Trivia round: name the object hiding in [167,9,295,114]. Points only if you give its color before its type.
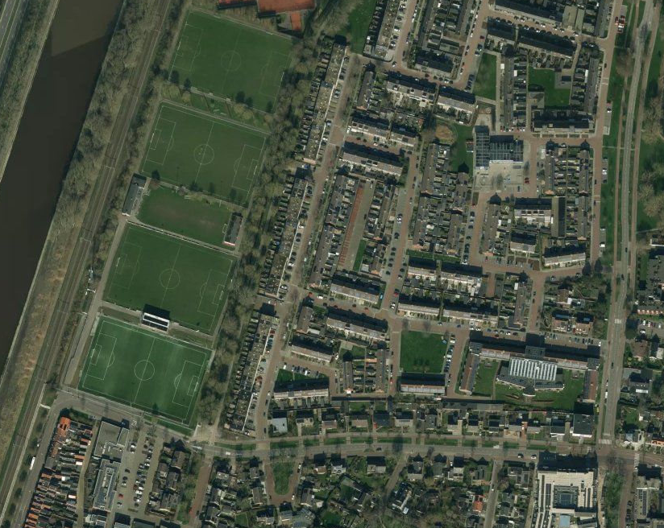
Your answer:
green soccer field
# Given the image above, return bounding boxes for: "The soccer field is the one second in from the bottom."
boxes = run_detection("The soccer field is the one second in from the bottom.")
[103,225,234,332]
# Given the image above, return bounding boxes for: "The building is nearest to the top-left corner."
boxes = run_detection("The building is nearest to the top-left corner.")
[123,175,148,214]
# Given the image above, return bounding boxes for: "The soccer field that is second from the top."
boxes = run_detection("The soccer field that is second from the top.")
[145,104,266,205]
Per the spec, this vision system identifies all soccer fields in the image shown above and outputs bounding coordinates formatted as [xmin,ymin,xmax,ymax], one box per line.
[145,104,266,205]
[103,225,234,332]
[76,316,212,425]
[167,9,295,114]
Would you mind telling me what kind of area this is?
residential area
